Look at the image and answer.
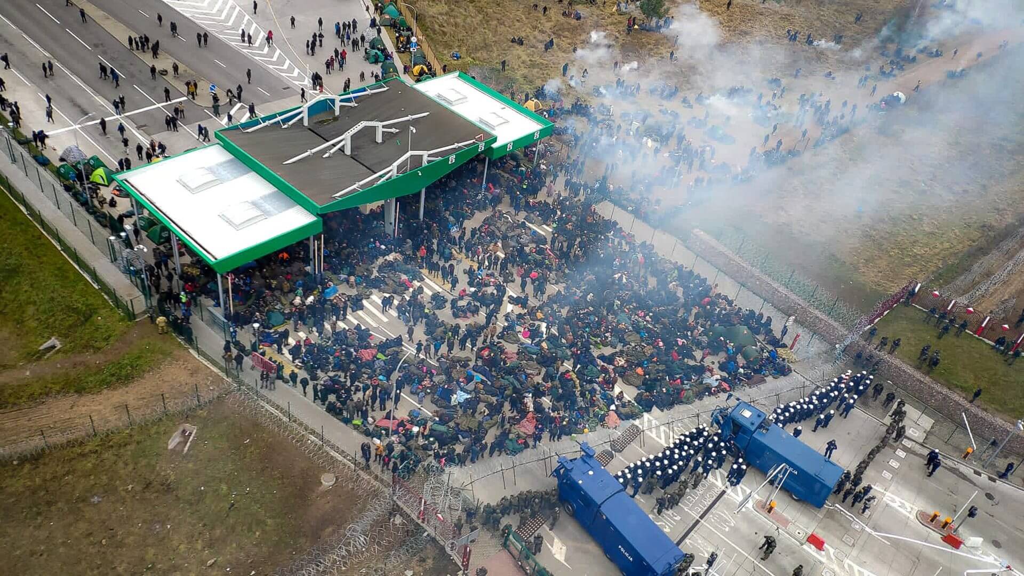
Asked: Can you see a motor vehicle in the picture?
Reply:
Yes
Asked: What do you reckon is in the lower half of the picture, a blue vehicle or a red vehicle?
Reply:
blue vehicle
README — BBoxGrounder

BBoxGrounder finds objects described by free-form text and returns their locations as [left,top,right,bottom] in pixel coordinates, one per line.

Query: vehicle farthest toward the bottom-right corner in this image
[714,397,845,510]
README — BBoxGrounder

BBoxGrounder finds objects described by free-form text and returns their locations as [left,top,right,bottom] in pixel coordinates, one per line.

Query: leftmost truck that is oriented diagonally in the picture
[549,447,685,576]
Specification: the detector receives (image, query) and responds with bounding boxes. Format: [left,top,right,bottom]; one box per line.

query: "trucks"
[549,447,685,576]
[714,397,845,510]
